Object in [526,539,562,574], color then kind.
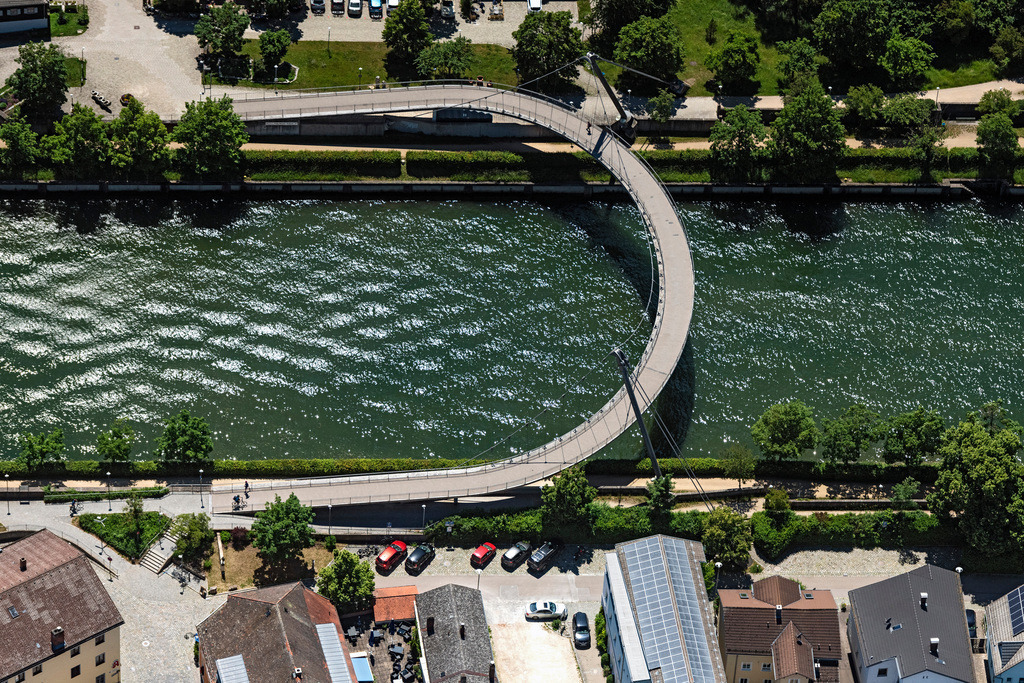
black car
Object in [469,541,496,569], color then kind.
red car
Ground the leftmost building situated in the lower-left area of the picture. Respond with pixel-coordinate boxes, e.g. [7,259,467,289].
[0,529,125,683]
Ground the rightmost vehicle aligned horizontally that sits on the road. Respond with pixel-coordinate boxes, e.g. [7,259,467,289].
[524,599,568,620]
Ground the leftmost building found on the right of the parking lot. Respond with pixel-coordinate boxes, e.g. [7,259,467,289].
[606,534,730,683]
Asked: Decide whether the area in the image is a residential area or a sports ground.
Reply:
residential area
